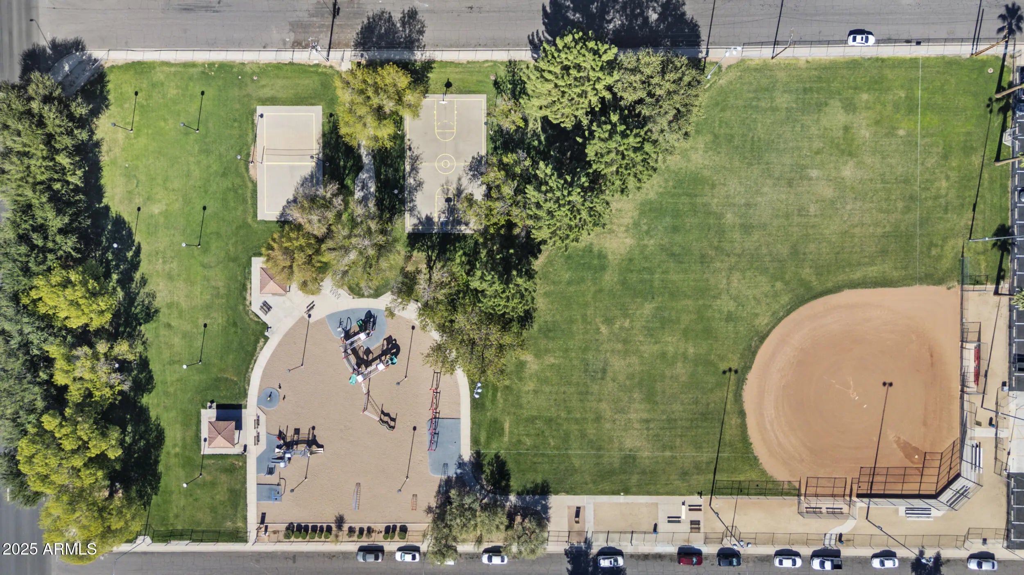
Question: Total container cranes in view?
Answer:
0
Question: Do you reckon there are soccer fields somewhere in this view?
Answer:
No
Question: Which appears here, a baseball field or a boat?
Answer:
baseball field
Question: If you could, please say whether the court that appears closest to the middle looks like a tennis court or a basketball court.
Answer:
basketball court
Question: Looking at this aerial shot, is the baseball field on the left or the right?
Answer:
right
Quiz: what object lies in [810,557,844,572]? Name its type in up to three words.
vehicle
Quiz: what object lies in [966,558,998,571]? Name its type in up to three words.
vehicle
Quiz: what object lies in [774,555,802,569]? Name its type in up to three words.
car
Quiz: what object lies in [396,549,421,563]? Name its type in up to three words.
car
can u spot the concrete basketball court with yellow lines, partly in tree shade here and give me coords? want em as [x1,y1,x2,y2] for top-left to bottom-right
[405,94,487,233]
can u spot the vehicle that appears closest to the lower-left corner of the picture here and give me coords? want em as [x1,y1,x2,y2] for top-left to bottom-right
[356,549,385,562]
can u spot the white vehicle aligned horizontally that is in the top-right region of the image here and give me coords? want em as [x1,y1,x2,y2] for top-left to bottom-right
[846,32,875,46]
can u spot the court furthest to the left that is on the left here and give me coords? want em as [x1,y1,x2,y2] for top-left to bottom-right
[257,106,323,220]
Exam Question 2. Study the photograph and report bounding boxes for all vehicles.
[597,554,624,569]
[1016,104,1024,116]
[810,557,844,572]
[396,549,421,563]
[1018,190,1024,201]
[356,549,385,562]
[481,552,508,565]
[846,32,875,46]
[716,553,743,567]
[966,558,998,571]
[677,553,703,567]
[870,556,899,570]
[1011,359,1024,371]
[1017,89,1024,101]
[774,555,802,569]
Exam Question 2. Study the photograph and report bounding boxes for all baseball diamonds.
[479,56,1008,499]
